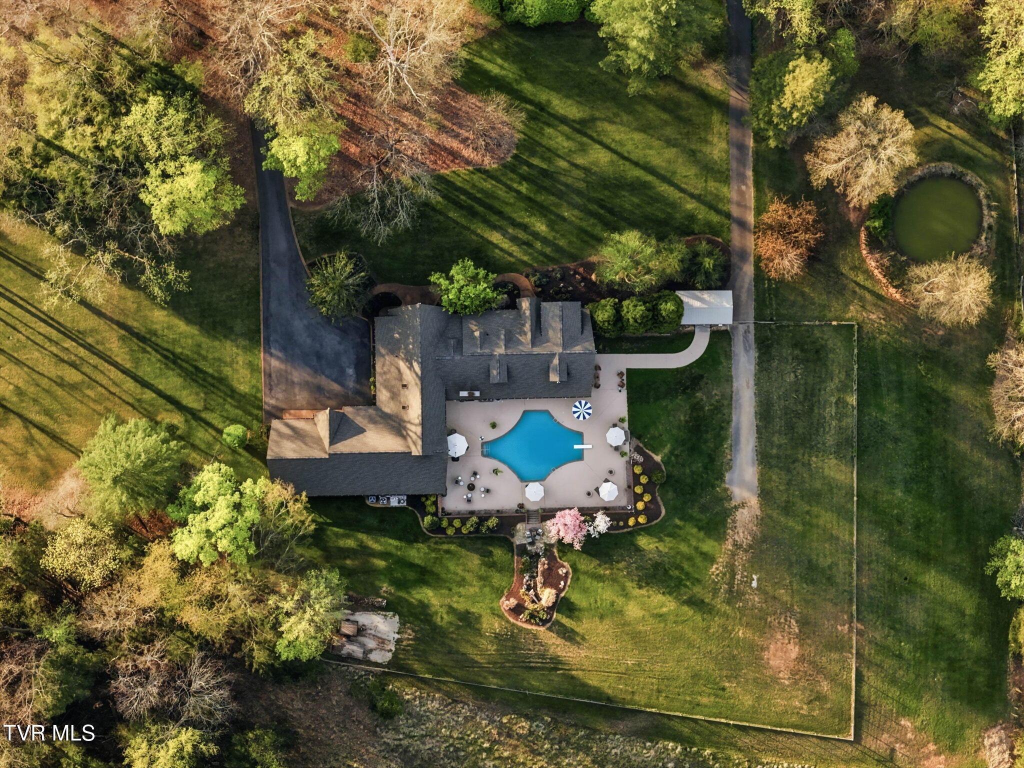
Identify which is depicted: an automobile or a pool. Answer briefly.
pool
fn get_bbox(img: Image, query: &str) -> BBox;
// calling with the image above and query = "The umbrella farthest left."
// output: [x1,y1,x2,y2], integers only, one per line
[448,432,469,456]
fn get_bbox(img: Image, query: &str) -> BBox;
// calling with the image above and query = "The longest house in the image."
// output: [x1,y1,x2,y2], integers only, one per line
[267,298,597,497]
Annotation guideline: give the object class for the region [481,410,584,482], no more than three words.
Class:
swimming pool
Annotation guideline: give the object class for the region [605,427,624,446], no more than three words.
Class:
umbrella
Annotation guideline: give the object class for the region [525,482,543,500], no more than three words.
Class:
umbrella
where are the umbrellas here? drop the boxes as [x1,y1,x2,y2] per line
[571,400,591,420]
[525,482,543,500]
[605,427,624,446]
[598,481,617,500]
[448,432,469,456]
